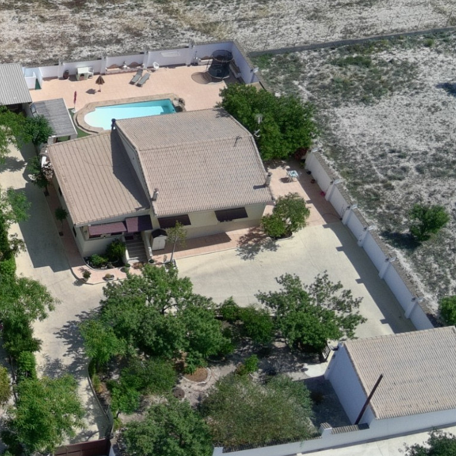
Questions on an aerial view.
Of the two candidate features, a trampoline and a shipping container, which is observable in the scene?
trampoline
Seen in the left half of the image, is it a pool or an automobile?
pool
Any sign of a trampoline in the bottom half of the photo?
No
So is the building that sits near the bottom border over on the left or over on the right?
right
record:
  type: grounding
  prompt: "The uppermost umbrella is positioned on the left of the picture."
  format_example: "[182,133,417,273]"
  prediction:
[93,73,108,94]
